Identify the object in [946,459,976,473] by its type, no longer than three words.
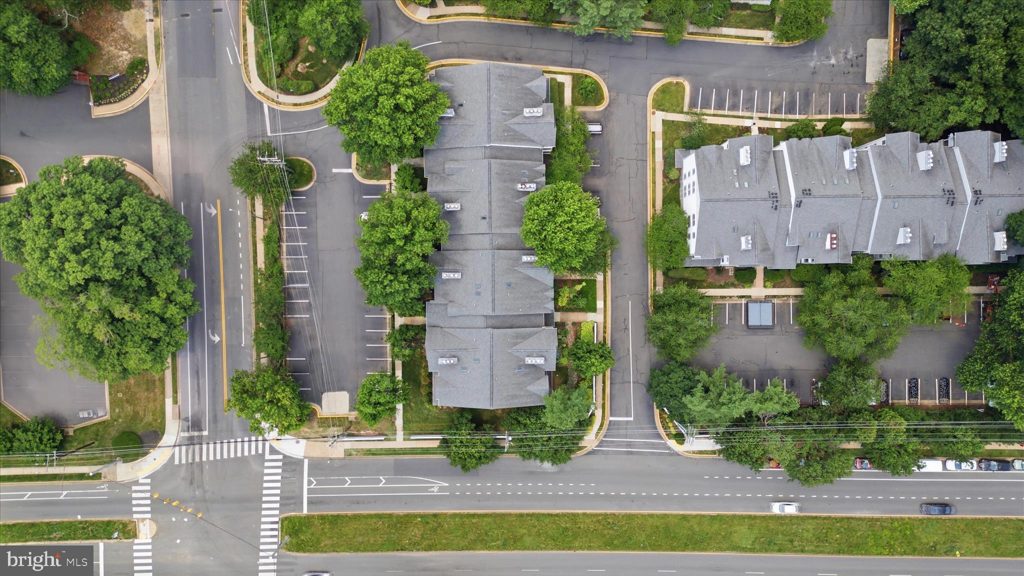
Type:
car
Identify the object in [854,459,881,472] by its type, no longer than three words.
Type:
vehicle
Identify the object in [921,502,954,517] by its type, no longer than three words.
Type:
car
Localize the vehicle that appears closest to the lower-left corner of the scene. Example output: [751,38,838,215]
[76,407,108,420]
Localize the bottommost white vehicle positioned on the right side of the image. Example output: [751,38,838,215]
[770,501,799,515]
